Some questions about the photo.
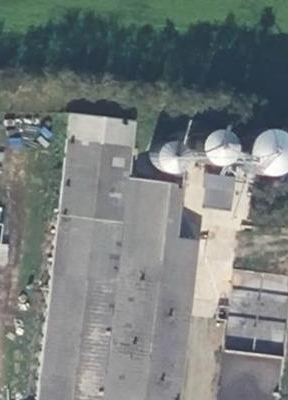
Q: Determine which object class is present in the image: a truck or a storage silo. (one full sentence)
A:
This aerial view contains a storage silo.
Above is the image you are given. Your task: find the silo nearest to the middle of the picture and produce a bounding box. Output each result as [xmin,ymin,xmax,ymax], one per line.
[150,140,194,178]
